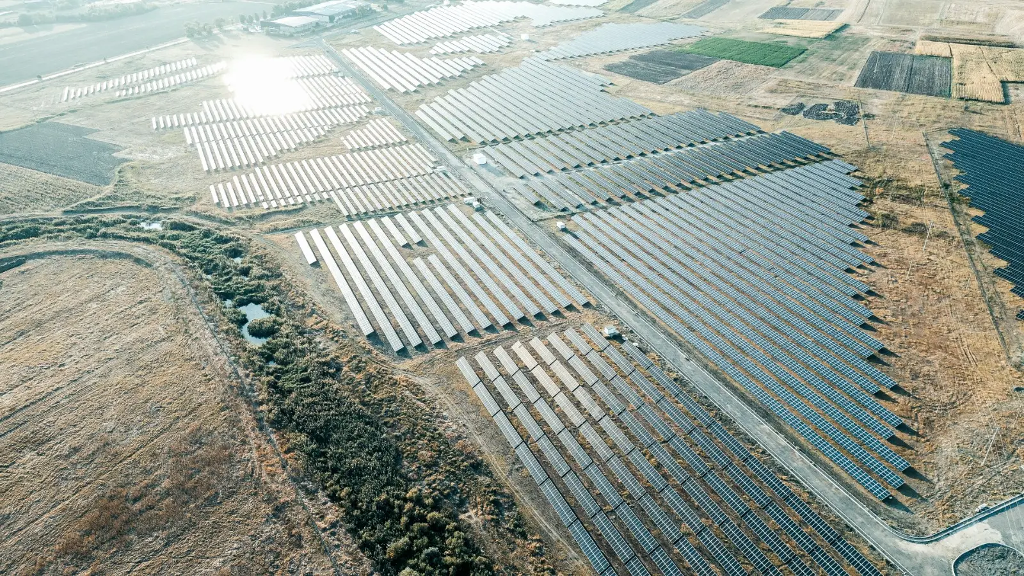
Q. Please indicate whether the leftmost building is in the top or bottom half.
top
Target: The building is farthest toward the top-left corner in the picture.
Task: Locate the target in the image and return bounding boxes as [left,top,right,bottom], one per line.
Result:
[258,15,323,35]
